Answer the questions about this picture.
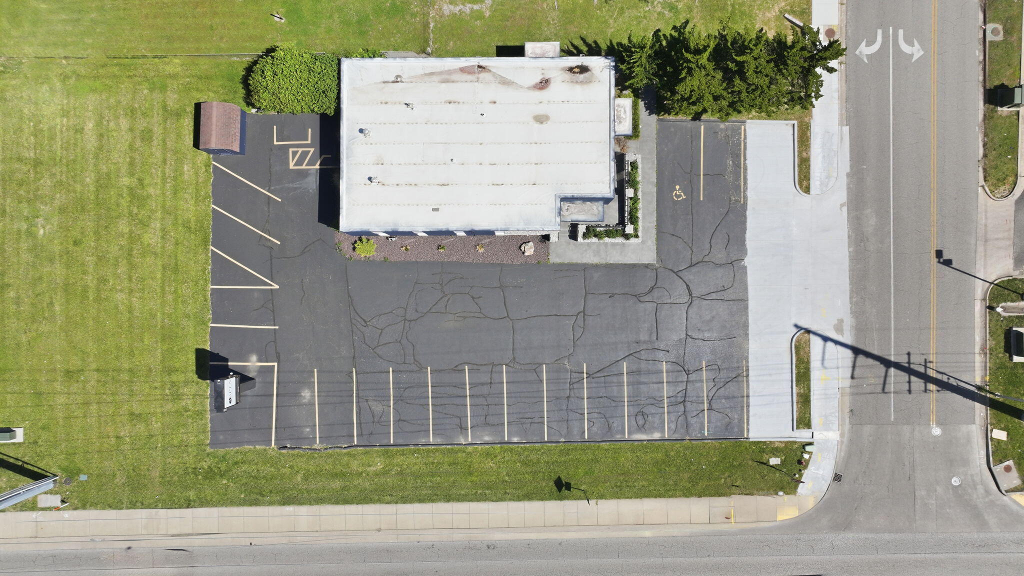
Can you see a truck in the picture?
No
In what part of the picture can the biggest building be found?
top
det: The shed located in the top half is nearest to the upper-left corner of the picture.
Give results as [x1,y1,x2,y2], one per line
[201,102,245,160]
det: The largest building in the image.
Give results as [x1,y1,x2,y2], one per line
[341,43,632,236]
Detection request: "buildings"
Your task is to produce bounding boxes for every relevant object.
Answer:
[341,43,632,236]
[201,102,245,160]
